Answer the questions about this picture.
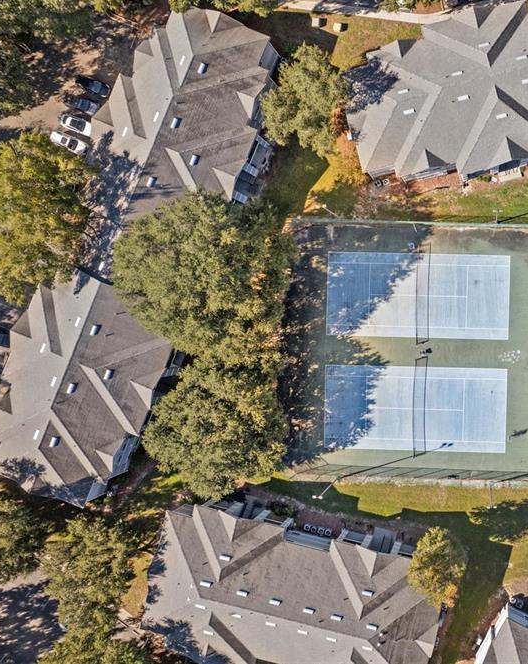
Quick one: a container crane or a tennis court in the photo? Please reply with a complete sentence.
The one in the frame is a tennis court.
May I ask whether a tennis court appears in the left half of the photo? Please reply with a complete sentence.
No, no tennis court is visible in the left half of the photo.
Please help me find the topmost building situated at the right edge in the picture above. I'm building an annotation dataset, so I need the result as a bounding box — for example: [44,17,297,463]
[341,0,528,183]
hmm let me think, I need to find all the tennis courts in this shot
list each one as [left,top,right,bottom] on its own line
[324,365,508,453]
[326,251,511,340]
